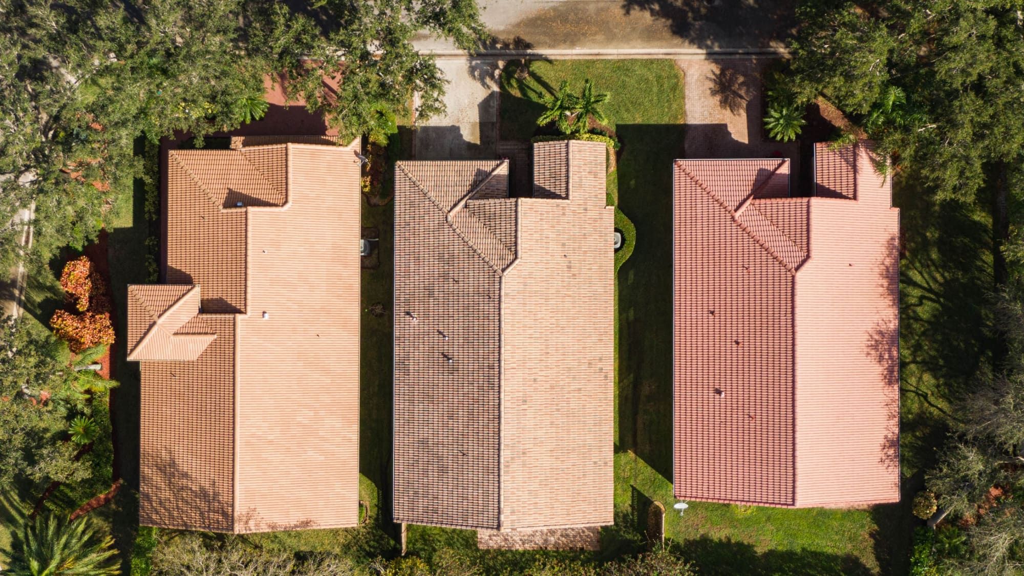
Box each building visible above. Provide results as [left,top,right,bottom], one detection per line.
[391,139,615,535]
[671,138,902,511]
[124,134,362,538]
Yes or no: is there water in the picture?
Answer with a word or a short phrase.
No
